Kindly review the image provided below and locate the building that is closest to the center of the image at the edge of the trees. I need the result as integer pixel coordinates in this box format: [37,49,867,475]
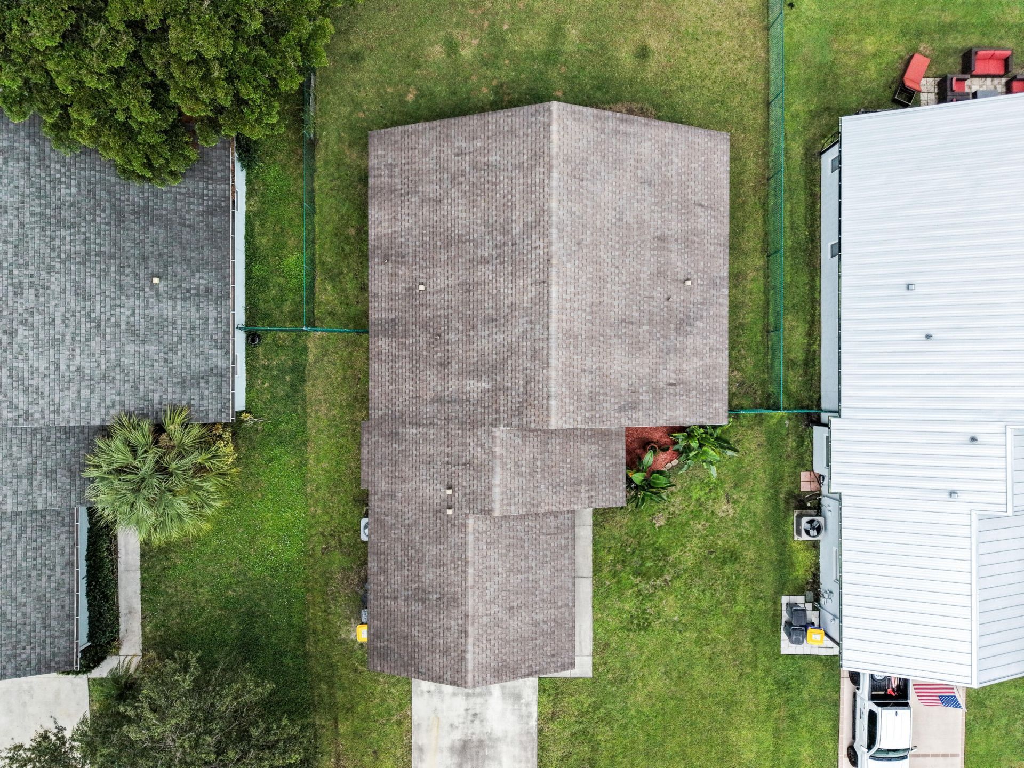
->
[361,102,733,688]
